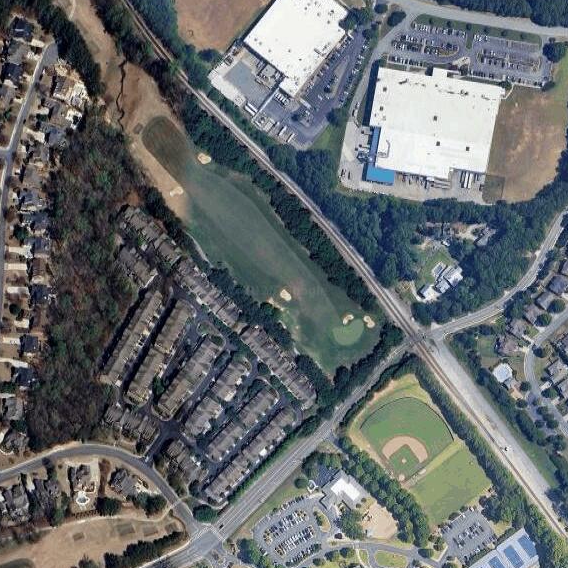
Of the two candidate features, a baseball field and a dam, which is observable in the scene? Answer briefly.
baseball field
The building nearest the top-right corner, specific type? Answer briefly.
warehouse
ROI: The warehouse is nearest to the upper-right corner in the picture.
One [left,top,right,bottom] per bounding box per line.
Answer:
[370,67,505,181]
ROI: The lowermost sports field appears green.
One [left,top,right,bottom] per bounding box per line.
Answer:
[412,453,488,528]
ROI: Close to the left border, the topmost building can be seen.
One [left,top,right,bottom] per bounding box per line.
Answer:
[8,18,36,42]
